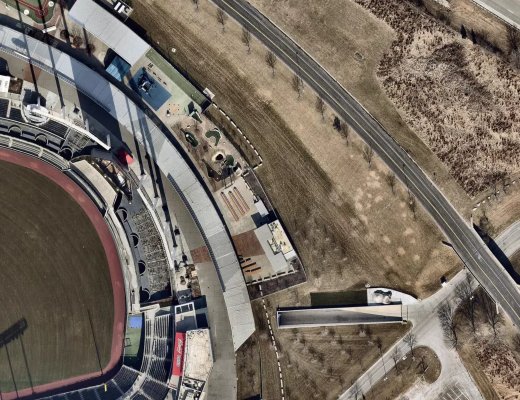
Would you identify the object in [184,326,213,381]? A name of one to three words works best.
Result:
building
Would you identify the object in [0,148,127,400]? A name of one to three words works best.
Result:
baseball field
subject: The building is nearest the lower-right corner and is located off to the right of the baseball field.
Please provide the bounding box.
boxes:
[254,220,297,271]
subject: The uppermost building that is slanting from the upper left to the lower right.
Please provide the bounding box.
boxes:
[69,0,151,66]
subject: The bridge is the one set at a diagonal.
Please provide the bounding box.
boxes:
[441,214,512,315]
